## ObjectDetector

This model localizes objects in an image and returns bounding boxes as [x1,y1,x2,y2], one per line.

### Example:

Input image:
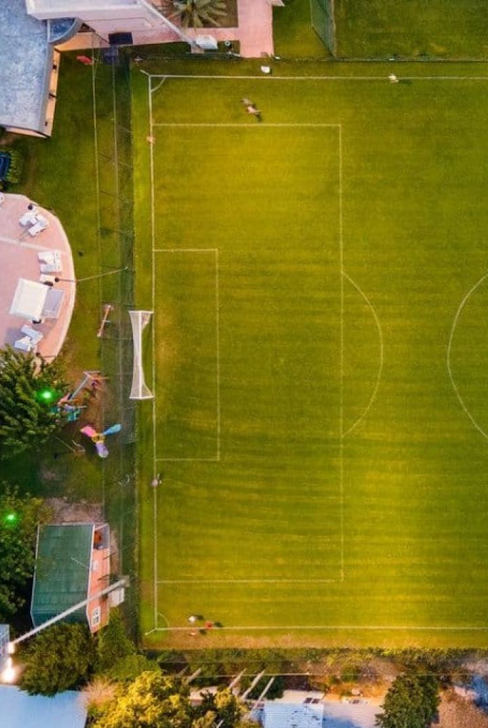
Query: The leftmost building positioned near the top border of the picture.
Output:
[0,0,99,137]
